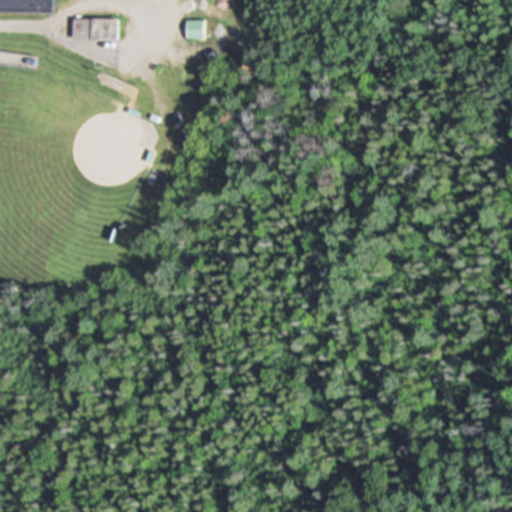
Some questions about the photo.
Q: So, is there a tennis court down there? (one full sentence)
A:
No, no tennis court is visible in the scene.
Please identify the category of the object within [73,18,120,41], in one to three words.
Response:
building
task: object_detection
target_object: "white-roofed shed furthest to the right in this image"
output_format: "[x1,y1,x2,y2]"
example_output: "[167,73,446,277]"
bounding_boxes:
[187,20,207,40]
